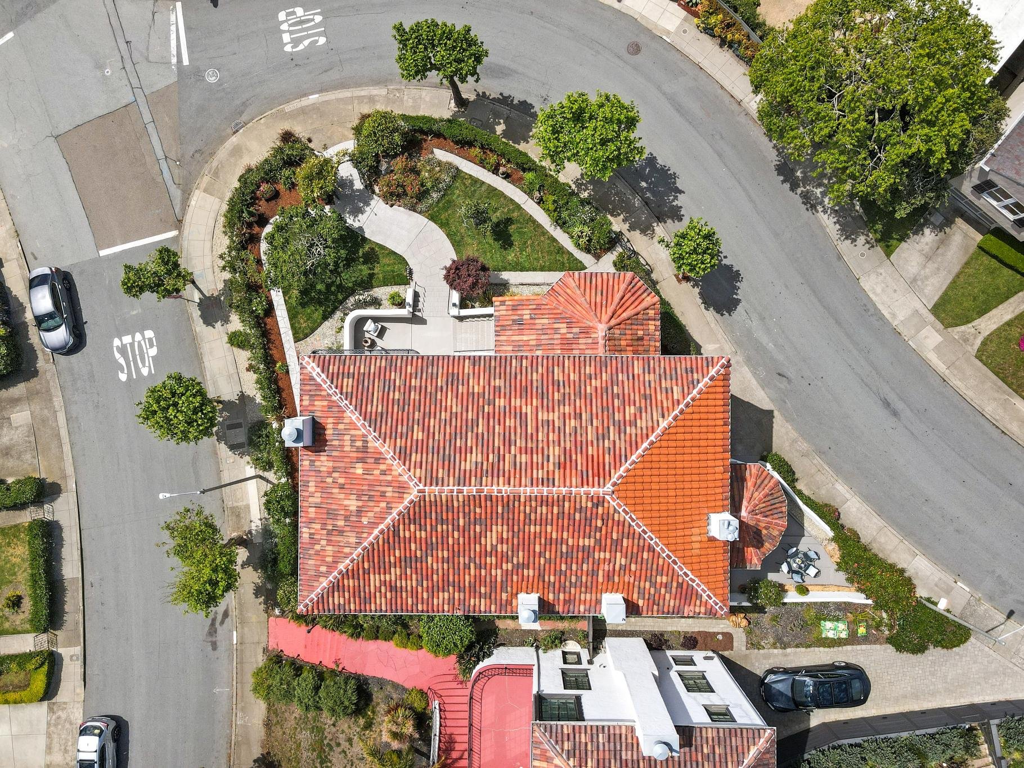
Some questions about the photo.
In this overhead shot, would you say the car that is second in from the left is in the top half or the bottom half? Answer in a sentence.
You can find the car that is second in from the left in the bottom half.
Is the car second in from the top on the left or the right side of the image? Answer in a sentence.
The car second in from the top appears in the right half of the scene.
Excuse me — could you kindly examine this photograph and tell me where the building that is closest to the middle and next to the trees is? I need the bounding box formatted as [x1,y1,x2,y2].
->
[281,269,790,624]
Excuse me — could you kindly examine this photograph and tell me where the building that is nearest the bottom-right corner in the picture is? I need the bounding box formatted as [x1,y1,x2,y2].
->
[529,638,780,768]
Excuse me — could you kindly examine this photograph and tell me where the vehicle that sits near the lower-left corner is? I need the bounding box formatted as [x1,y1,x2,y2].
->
[71,713,123,768]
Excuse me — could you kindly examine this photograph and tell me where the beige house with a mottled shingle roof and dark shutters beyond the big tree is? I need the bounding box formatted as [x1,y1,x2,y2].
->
[949,96,1024,245]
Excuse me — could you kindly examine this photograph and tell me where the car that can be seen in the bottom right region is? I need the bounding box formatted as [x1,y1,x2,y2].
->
[757,657,870,715]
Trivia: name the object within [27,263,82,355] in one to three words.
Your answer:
car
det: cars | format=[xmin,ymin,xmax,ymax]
[71,713,123,768]
[757,657,870,715]
[27,263,82,355]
